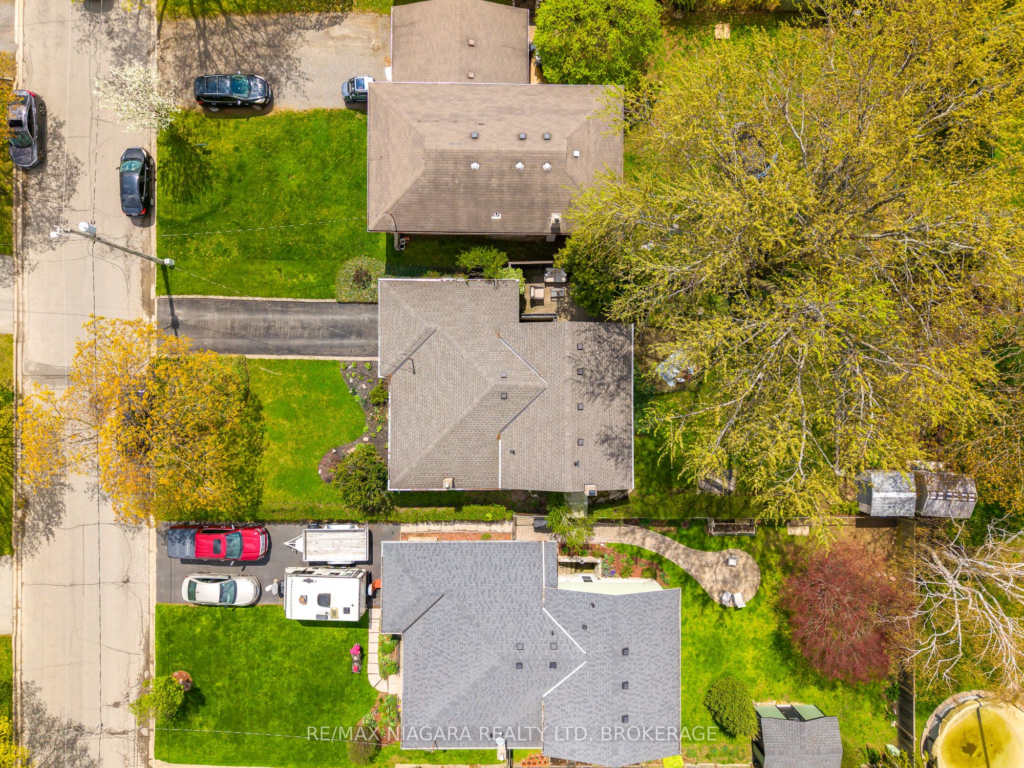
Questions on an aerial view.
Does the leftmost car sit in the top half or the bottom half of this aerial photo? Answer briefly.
top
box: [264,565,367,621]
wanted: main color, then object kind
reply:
white trailer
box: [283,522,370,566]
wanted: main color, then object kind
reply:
white trailer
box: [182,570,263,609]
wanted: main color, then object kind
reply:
white car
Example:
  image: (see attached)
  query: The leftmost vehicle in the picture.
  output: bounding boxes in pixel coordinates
[4,90,50,173]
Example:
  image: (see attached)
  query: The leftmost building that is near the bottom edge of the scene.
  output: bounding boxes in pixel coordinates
[379,538,684,764]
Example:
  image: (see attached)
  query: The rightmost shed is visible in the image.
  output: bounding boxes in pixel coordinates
[915,471,980,516]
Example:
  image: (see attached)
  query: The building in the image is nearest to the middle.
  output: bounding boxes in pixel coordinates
[376,277,636,496]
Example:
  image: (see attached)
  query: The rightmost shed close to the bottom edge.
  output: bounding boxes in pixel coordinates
[751,703,845,768]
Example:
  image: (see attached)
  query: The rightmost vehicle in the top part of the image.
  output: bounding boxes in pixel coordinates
[340,71,390,111]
